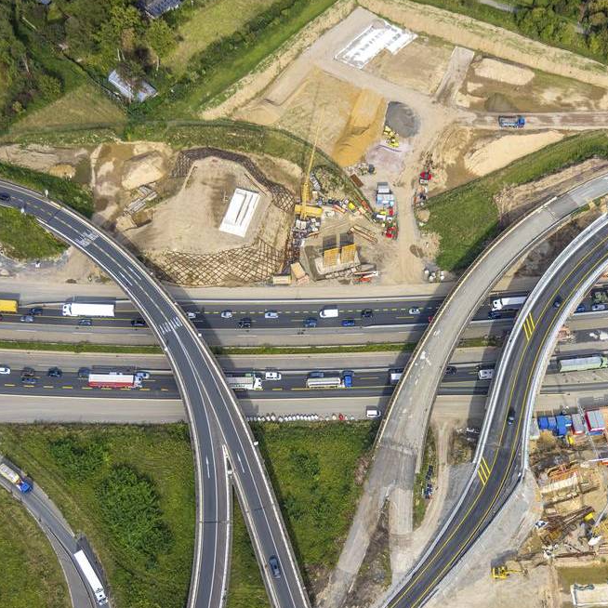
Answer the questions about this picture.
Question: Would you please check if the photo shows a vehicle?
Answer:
Yes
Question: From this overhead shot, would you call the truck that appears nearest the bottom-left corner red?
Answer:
No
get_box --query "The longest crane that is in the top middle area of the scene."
[300,92,320,224]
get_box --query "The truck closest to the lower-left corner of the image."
[72,548,109,608]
